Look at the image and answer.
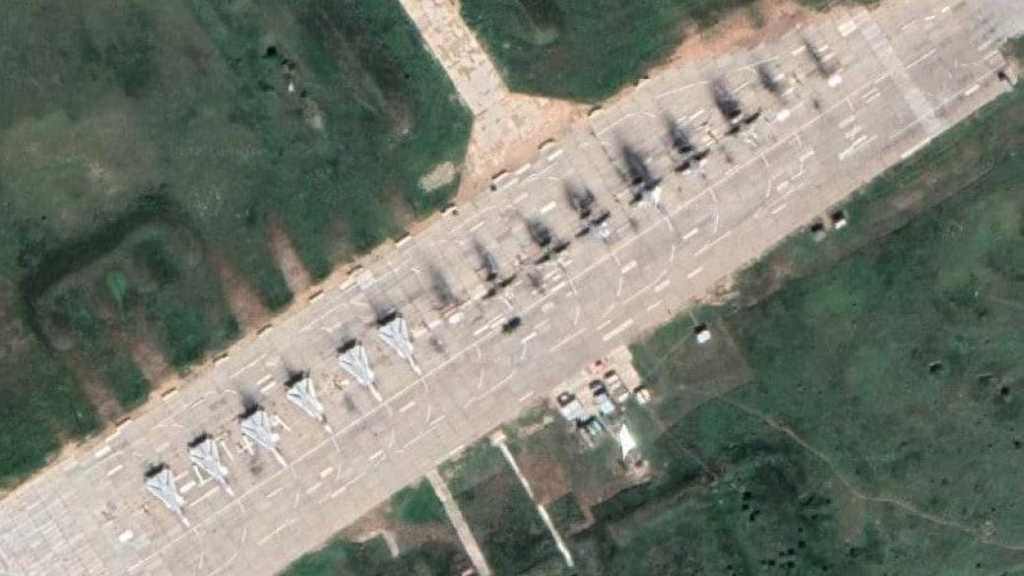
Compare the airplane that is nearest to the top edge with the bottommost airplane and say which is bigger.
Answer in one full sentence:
The bottommost airplane is bigger than the airplane that is nearest to the top edge.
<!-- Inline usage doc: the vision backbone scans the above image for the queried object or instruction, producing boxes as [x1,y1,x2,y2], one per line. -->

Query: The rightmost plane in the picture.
[725,113,762,150]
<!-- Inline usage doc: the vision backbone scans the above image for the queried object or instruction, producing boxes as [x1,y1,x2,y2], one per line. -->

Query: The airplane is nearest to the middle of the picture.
[482,275,520,312]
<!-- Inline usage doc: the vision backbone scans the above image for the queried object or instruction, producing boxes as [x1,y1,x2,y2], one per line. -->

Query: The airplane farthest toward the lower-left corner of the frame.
[144,468,190,529]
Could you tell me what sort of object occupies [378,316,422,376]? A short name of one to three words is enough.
airplane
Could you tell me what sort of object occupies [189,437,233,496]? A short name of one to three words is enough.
airplane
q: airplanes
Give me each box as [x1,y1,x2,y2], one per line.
[378,316,422,376]
[286,376,332,434]
[144,468,190,529]
[338,343,383,404]
[628,179,666,218]
[725,113,762,150]
[189,437,233,496]
[534,242,572,279]
[241,409,288,469]
[674,149,712,186]
[575,215,613,253]
[482,275,520,312]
